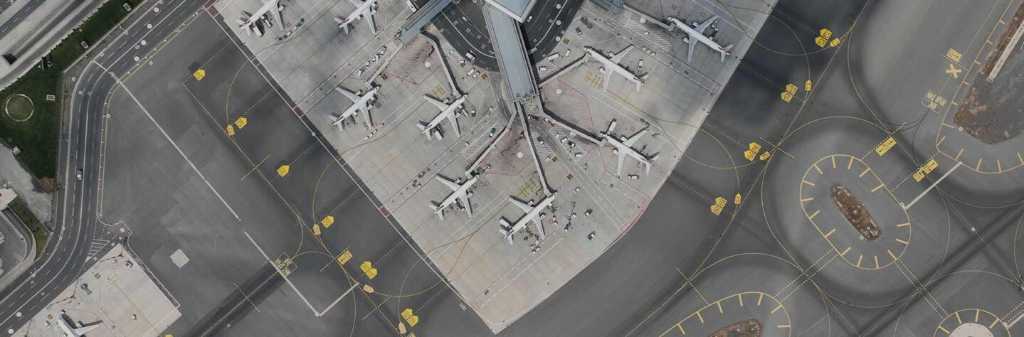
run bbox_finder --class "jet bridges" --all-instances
[535,96,607,146]
[536,51,591,90]
[419,31,464,97]
[467,103,519,177]
[518,102,553,195]
[621,3,675,33]
[365,42,407,89]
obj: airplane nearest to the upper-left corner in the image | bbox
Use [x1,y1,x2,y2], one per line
[233,0,282,31]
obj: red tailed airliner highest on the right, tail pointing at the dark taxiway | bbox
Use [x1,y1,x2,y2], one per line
[669,13,736,62]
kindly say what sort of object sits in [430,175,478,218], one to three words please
airplane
